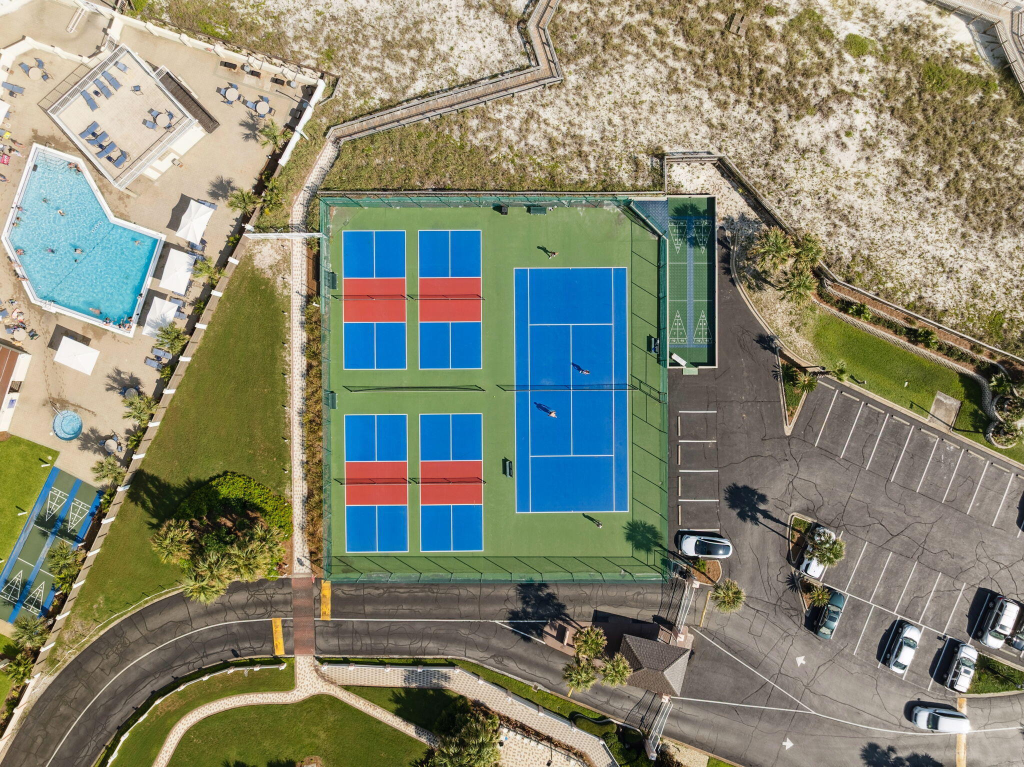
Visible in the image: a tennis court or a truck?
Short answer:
tennis court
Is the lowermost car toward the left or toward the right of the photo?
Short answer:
right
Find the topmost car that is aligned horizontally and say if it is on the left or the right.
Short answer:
right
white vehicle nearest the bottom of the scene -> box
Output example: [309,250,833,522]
[911,702,969,736]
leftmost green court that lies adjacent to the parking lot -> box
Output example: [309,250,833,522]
[322,200,669,578]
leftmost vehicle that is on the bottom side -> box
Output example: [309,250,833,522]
[680,533,731,559]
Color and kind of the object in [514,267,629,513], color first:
blue tennis court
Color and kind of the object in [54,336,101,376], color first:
white umbrella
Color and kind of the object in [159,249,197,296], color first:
white umbrella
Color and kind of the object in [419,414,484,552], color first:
blue sports court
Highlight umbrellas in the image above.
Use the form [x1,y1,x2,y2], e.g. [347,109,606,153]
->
[142,297,179,337]
[159,249,197,296]
[176,200,215,245]
[0,102,11,129]
[54,336,101,376]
